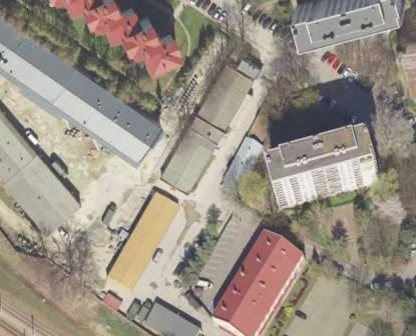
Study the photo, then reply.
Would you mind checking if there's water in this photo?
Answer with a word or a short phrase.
No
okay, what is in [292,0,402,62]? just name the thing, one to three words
building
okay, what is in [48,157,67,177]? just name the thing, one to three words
vehicle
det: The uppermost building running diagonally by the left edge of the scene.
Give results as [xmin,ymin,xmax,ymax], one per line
[0,21,165,169]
